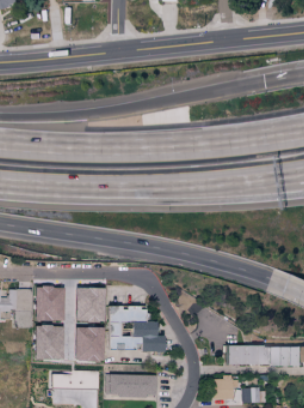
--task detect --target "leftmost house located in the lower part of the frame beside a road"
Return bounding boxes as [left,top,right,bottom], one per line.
[0,288,32,328]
